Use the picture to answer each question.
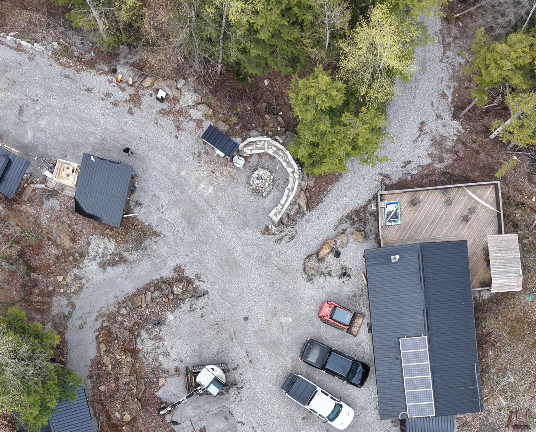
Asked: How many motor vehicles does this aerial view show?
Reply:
4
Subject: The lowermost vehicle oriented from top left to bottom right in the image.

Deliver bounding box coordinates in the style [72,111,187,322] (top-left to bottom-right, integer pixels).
[284,374,356,428]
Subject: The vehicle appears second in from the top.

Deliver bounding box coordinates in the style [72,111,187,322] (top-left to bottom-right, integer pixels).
[298,339,373,387]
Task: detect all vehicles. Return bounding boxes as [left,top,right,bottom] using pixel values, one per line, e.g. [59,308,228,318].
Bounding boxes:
[284,374,356,428]
[160,367,225,413]
[298,339,373,387]
[321,303,368,343]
